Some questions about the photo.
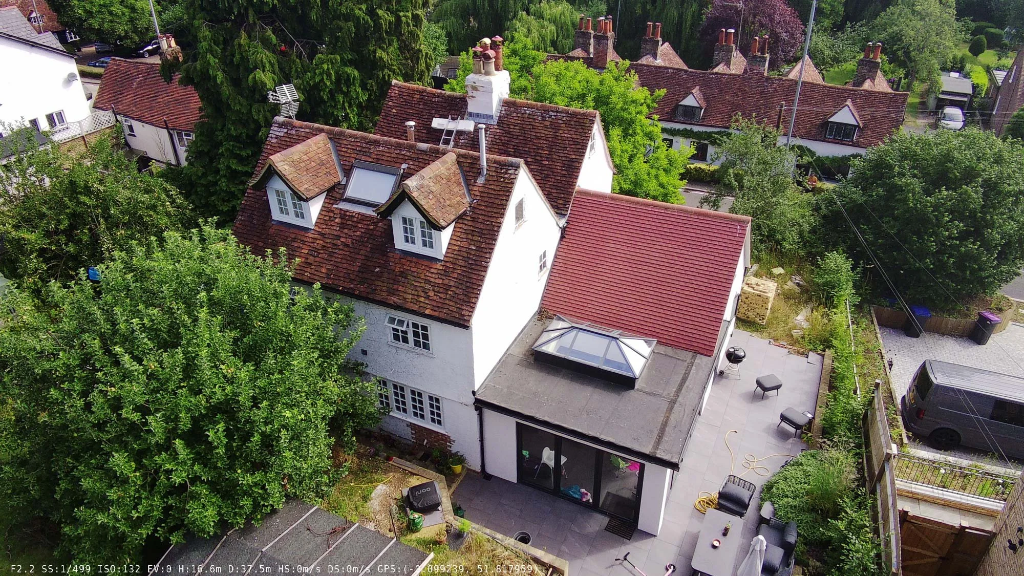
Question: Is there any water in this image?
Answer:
No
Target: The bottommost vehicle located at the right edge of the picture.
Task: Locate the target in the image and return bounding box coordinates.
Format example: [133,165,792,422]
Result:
[900,355,1024,463]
